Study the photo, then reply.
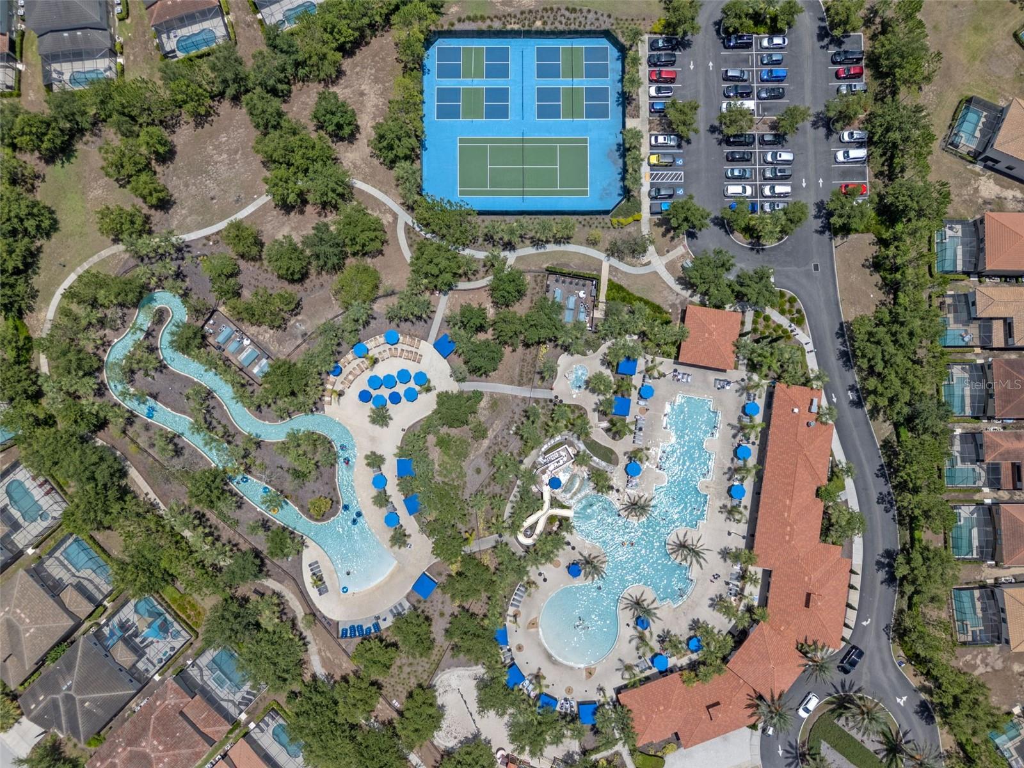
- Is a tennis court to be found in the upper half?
Yes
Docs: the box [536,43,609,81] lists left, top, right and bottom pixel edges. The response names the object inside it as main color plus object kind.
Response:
blue sports court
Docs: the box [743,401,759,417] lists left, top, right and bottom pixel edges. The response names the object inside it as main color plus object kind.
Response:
blue umbrella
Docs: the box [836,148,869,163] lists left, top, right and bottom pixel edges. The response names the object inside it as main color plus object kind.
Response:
white vehicle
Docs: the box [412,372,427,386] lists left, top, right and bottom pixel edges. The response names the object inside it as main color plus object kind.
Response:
blue umbrella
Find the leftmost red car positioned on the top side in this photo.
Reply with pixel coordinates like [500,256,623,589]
[649,69,676,84]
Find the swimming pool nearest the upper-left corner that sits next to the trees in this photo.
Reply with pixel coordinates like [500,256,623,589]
[69,69,106,86]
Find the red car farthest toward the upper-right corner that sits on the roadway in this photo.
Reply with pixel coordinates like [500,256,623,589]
[835,65,862,80]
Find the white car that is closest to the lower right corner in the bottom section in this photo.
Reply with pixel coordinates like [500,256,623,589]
[796,692,820,718]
